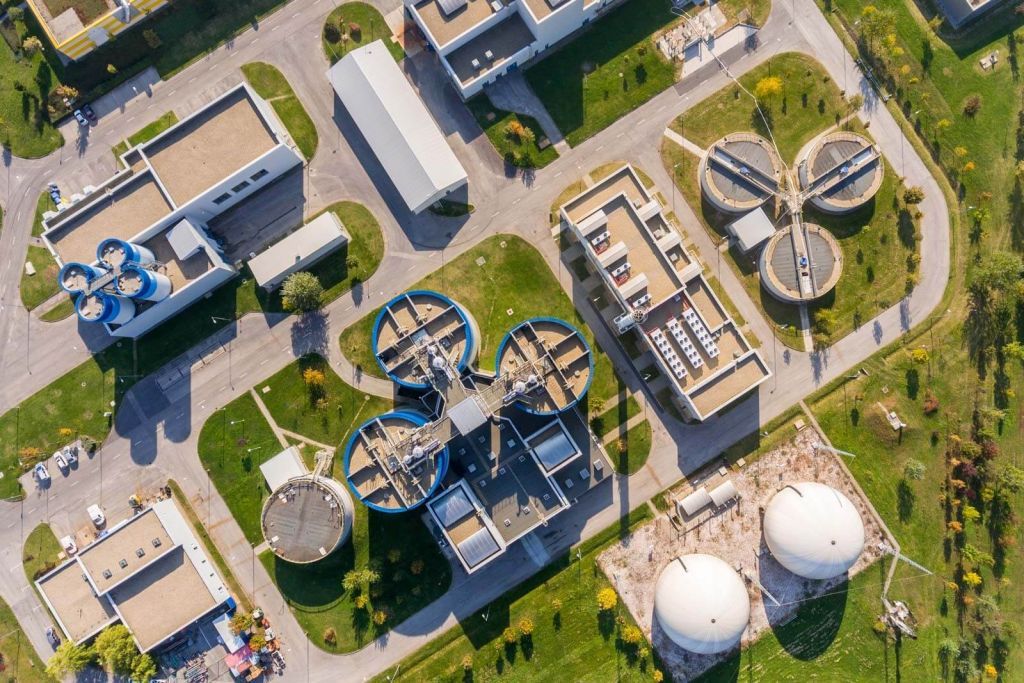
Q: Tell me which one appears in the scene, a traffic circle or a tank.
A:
tank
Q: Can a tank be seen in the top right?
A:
Yes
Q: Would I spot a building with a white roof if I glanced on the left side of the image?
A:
Yes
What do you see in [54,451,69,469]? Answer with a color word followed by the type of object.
white car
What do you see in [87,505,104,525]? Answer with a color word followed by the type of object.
white vehicle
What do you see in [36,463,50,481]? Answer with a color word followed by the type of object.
white car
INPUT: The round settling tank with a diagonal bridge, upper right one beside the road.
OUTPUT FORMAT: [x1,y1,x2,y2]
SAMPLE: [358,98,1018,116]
[796,131,886,217]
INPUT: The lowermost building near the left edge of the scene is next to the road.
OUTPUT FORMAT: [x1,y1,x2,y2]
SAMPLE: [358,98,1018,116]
[36,498,239,651]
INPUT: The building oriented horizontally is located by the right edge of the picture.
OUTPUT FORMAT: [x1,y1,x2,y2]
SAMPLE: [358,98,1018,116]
[933,0,997,29]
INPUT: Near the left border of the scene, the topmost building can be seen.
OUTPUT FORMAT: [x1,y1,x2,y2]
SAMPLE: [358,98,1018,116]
[30,0,182,64]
